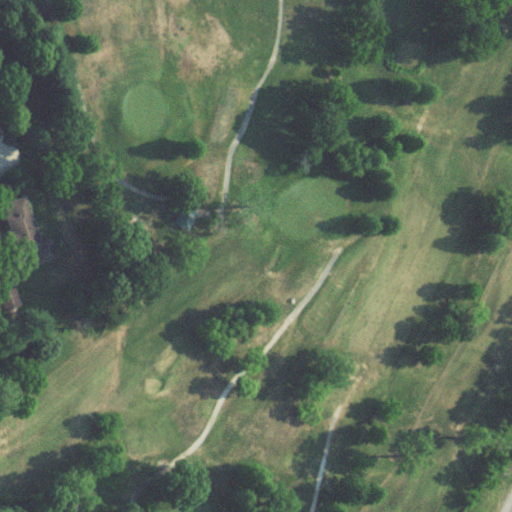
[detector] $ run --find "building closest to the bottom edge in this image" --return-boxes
[1,286,22,314]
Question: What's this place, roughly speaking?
golf course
